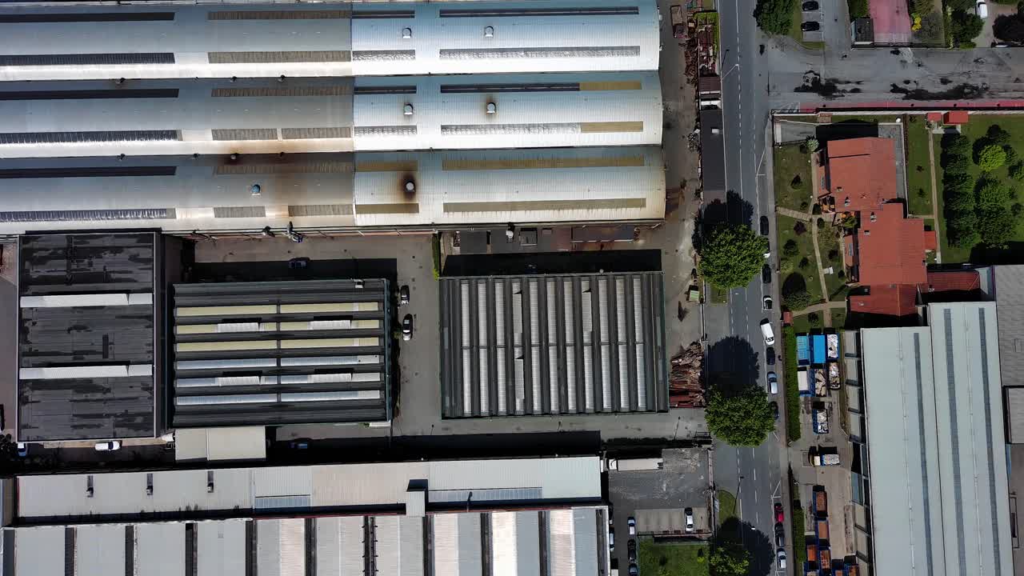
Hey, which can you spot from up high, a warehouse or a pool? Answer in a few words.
warehouse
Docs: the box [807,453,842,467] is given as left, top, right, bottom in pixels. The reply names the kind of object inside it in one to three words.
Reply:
vehicle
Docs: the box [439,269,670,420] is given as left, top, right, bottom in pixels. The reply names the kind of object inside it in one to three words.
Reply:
warehouse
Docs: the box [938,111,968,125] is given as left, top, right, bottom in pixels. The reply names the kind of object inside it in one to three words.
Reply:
shed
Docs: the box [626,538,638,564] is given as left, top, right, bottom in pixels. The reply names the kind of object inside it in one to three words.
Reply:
vehicle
